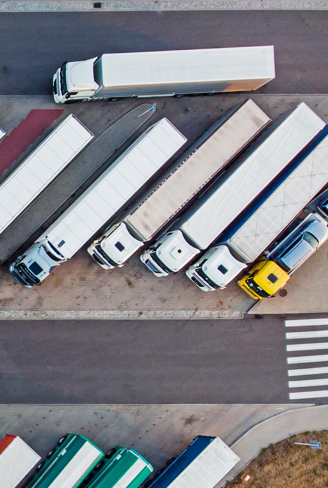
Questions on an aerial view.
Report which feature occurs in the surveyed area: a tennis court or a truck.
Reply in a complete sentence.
There is a truck in the scene.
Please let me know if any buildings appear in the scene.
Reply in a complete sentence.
No, there appears to be no building in this shot.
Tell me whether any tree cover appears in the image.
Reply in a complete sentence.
No, there is no tree cover in the image.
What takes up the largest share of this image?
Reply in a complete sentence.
The bulk of the photo consists of paved ground.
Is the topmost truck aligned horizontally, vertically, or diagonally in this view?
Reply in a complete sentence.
In this picture, the topmost truck lies horizontally.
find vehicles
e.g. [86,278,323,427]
[239,188,328,299]
[140,102,326,276]
[28,433,104,488]
[51,47,275,101]
[11,119,187,287]
[0,114,93,233]
[272,222,327,276]
[84,448,151,488]
[184,126,328,290]
[86,98,271,269]
[142,434,239,488]
[0,433,41,488]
